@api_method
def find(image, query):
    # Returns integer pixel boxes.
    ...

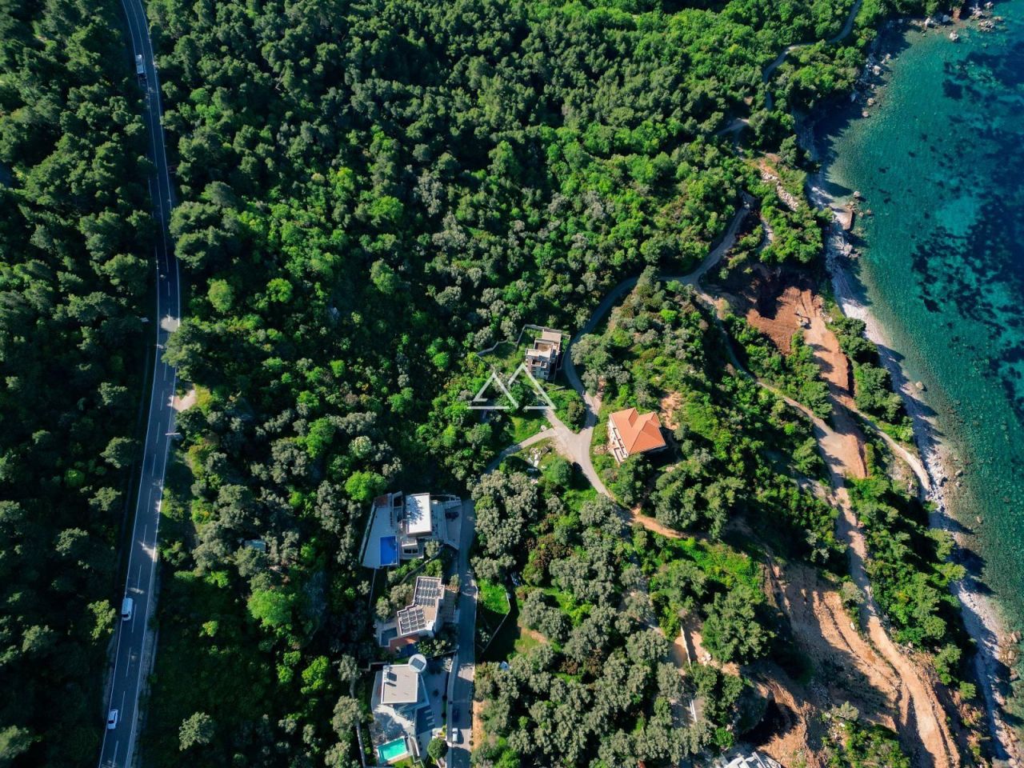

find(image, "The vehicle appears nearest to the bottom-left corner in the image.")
[107,707,120,729]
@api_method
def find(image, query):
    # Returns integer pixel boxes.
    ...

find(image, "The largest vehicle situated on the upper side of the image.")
[134,55,147,79]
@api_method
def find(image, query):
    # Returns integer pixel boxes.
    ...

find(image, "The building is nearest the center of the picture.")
[525,331,561,383]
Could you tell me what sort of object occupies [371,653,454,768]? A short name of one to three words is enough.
house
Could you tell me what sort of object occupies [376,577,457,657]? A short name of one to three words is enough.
house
